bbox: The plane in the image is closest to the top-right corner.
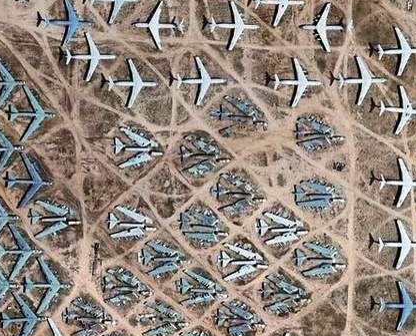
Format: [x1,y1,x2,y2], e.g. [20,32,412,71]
[377,27,416,76]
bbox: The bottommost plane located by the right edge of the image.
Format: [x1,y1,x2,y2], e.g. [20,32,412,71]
[379,281,416,330]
